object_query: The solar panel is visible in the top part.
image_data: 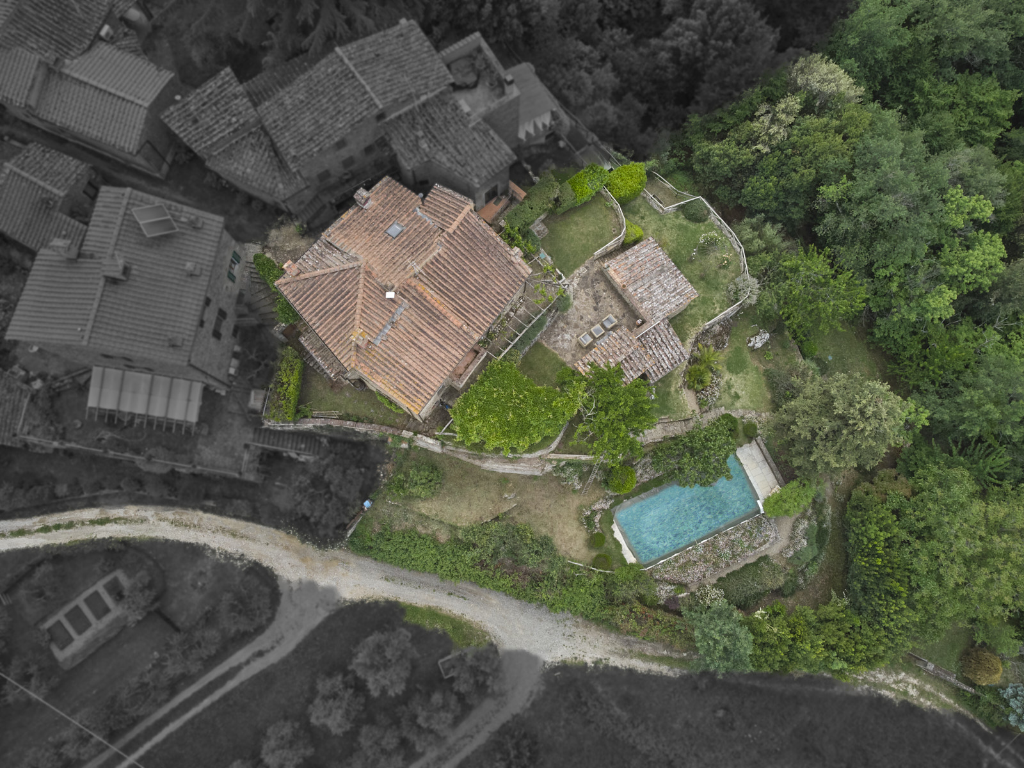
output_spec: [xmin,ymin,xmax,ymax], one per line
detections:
[131,203,186,246]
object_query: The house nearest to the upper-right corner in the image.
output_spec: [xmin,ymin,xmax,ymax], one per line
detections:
[600,236,700,328]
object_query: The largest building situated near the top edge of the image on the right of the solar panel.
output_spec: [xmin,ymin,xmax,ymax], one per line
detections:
[160,14,516,222]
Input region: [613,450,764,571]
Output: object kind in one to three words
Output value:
swimming pool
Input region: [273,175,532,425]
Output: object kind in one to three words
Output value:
house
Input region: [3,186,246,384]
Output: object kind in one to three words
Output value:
house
